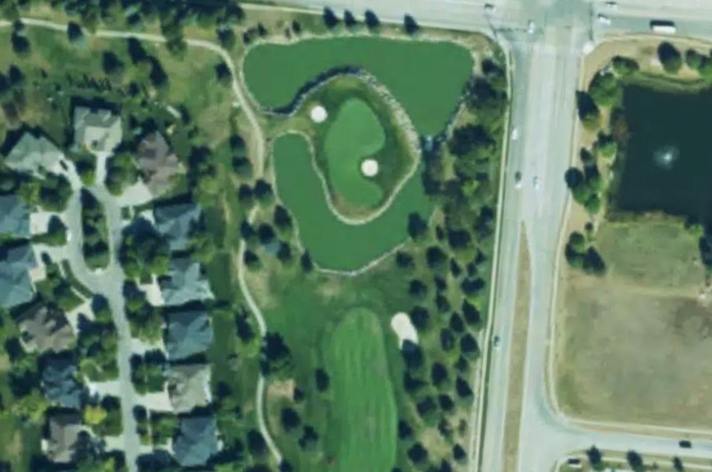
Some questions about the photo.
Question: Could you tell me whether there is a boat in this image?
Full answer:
No, this view has no boat in it.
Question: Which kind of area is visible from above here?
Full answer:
This looks like a golf course.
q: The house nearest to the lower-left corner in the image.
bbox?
[48,416,86,463]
